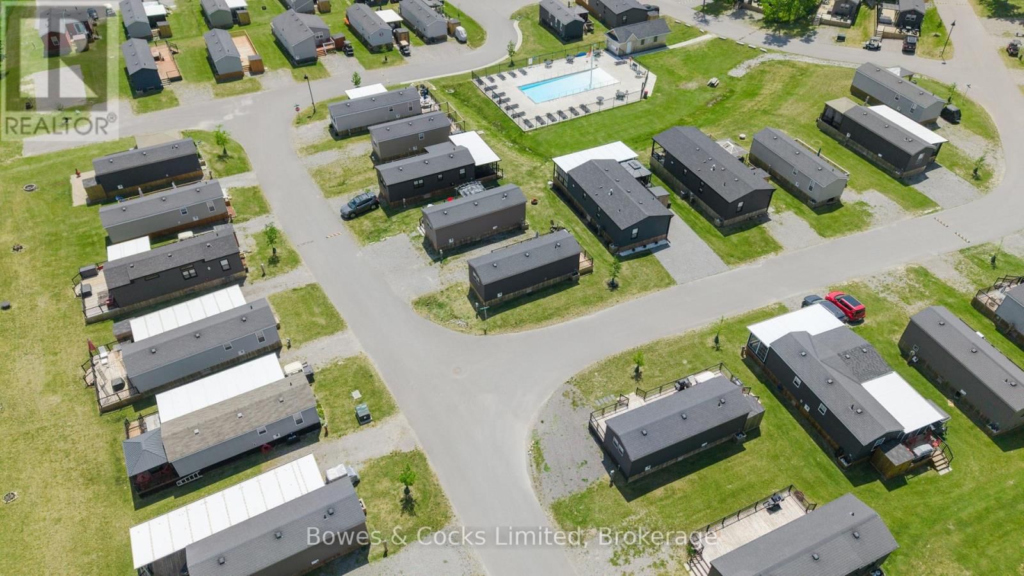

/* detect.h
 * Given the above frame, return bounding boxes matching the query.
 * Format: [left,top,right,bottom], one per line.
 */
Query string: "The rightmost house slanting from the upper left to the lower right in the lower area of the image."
[904,306,1024,432]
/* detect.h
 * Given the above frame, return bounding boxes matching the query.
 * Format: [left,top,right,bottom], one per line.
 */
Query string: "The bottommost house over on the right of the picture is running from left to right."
[710,493,900,576]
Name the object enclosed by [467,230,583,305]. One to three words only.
house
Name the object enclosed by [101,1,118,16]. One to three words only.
car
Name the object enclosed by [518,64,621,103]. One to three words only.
swimming pool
